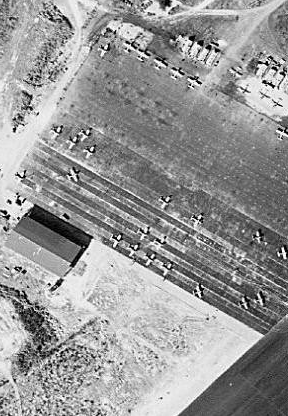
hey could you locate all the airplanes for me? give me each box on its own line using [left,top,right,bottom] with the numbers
[188,79,200,89]
[124,42,136,53]
[145,254,154,264]
[80,129,90,139]
[16,170,25,180]
[163,263,170,273]
[51,126,59,137]
[139,228,148,238]
[277,130,288,140]
[155,59,166,70]
[155,236,164,246]
[252,293,263,305]
[276,247,287,260]
[67,169,78,181]
[137,50,149,61]
[259,92,269,101]
[171,69,183,80]
[238,297,248,309]
[112,235,121,245]
[68,137,76,147]
[161,197,169,207]
[193,213,202,223]
[85,146,93,156]
[99,44,107,54]
[251,230,261,244]
[129,244,137,254]
[239,88,249,97]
